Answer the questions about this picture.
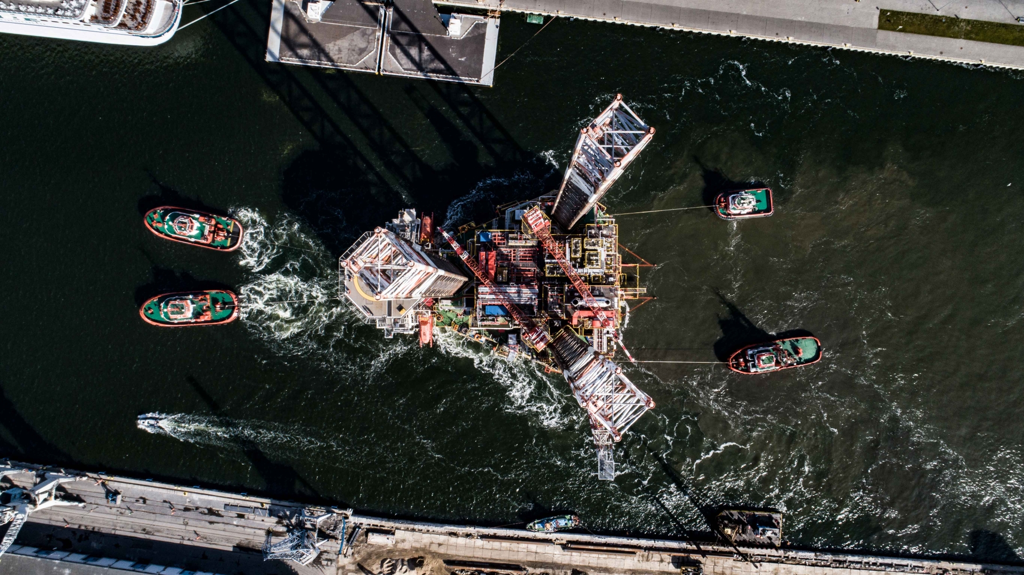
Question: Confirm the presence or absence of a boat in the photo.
Yes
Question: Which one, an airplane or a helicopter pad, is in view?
helicopter pad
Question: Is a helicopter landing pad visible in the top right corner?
No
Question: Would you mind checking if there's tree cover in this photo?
No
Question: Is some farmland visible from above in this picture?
No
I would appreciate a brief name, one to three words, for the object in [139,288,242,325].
boat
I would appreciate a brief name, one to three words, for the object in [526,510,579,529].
boat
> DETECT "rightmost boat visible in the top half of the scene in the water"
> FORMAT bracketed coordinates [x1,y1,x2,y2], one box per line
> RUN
[712,186,773,220]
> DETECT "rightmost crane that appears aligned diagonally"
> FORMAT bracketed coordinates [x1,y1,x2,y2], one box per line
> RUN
[519,202,635,364]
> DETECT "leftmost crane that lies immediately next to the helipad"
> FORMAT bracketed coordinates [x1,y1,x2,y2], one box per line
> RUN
[438,227,552,353]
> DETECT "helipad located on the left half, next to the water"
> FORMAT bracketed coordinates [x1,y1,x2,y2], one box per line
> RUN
[339,231,427,323]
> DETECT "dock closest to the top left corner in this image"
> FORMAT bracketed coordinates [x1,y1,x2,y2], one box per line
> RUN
[265,0,386,76]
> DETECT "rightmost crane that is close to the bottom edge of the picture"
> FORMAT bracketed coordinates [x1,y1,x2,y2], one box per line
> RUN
[261,498,344,567]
